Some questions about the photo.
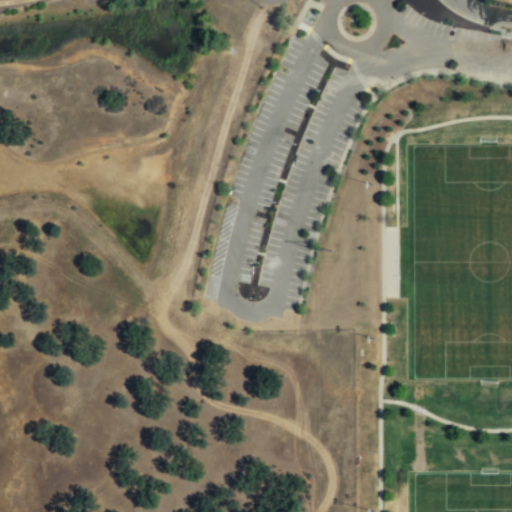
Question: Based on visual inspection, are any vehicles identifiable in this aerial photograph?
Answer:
No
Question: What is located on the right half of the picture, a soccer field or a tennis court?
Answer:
soccer field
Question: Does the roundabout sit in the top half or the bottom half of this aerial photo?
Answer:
top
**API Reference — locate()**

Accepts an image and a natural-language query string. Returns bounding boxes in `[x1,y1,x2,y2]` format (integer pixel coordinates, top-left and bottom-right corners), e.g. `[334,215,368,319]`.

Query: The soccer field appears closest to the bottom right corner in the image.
[410,474,512,512]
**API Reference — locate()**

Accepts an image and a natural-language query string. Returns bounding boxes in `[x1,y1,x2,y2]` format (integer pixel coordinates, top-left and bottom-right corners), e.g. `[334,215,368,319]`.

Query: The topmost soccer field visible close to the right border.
[408,145,512,379]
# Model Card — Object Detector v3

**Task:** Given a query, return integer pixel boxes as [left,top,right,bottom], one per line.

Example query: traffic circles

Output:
[326,0,390,54]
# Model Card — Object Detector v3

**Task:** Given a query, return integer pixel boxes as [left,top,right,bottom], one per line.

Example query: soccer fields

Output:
[408,145,512,379]
[410,474,512,512]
